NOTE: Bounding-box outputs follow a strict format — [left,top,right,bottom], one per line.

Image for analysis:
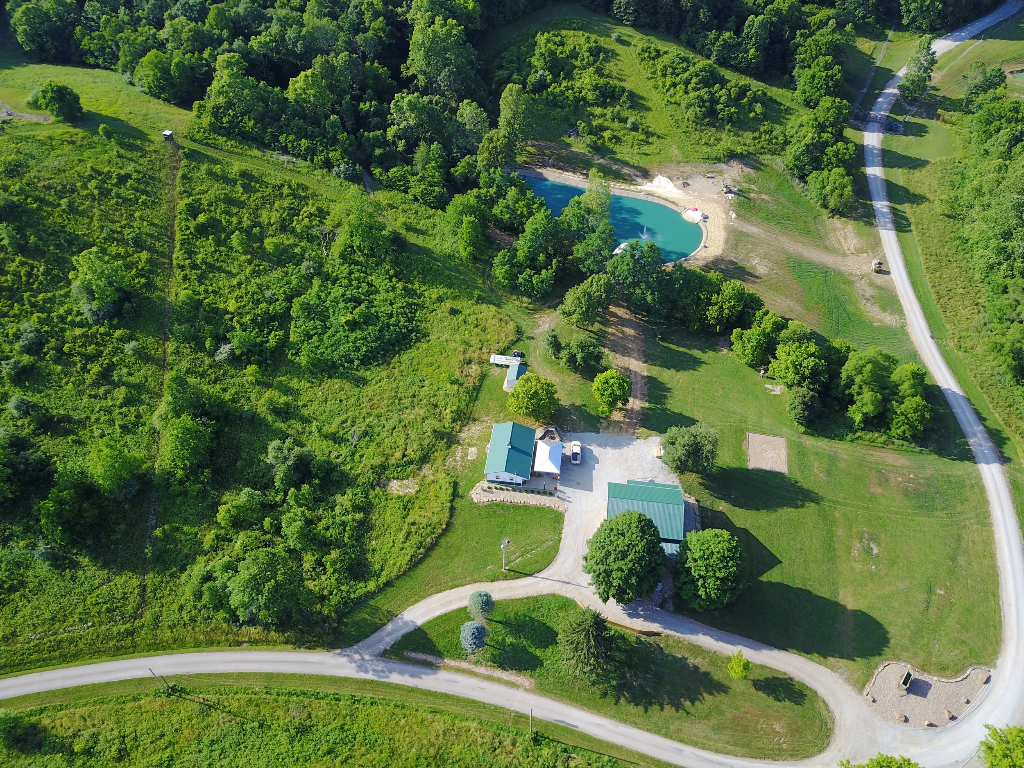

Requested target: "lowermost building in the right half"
[606,481,684,568]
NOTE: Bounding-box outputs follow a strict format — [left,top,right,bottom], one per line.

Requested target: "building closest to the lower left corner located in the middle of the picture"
[483,421,537,485]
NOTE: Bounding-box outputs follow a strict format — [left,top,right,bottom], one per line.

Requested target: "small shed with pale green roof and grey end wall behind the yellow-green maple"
[507,363,527,388]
